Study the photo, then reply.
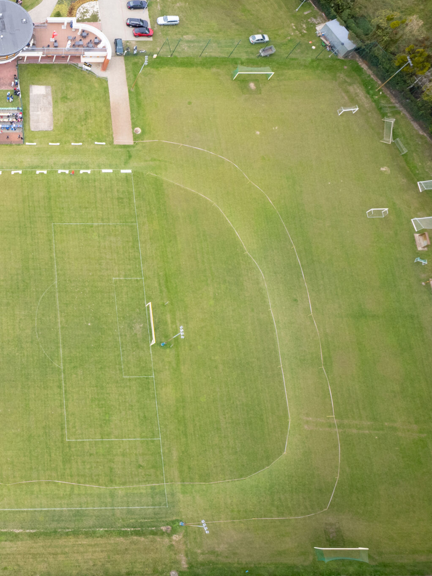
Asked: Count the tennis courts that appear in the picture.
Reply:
zero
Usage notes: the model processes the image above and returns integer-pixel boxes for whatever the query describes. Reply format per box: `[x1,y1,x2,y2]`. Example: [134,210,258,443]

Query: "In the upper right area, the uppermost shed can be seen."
[316,22,358,62]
